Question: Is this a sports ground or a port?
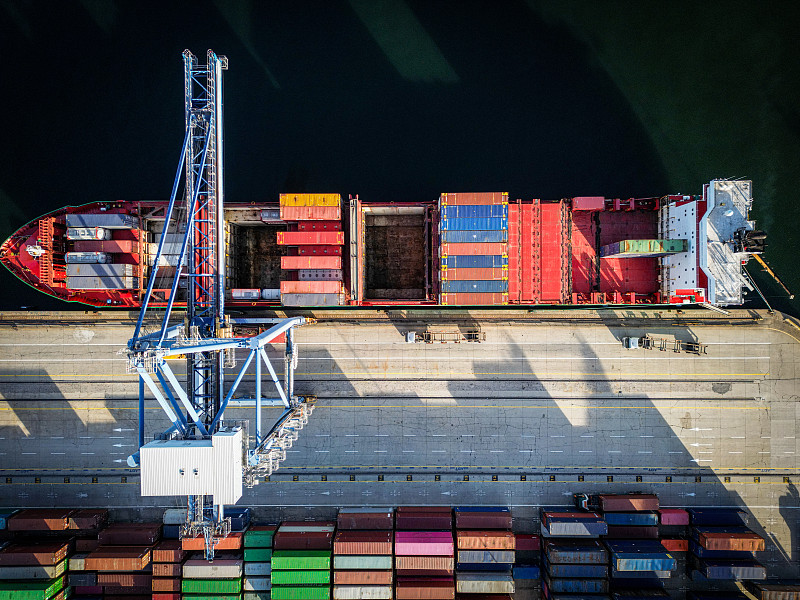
port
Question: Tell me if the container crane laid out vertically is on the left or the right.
left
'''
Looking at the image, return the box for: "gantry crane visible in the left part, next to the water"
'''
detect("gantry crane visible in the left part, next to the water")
[107,46,326,560]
